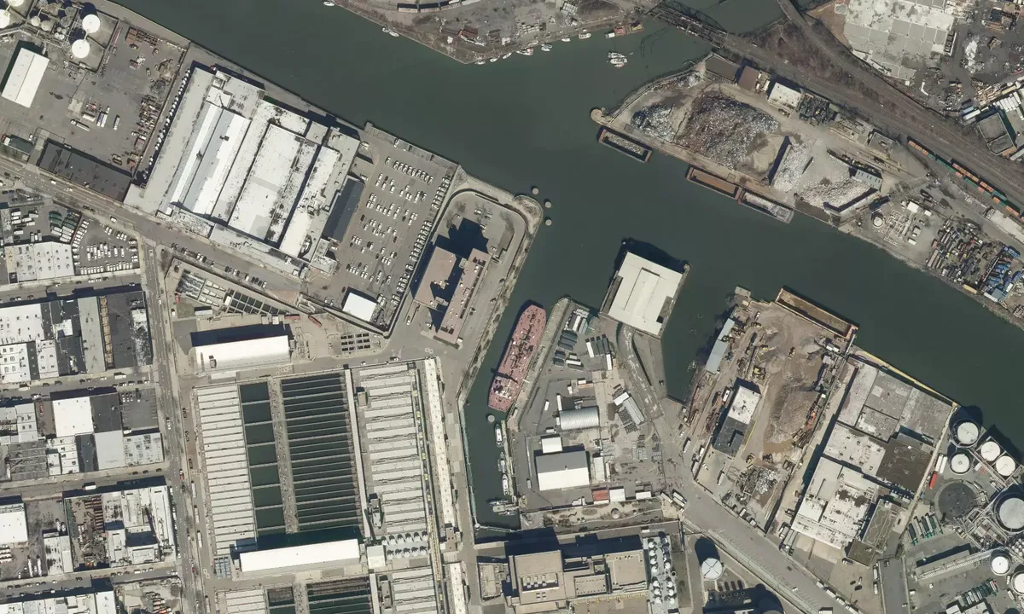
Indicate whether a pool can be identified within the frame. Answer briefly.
No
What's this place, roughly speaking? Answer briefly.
port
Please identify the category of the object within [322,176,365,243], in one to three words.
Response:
shed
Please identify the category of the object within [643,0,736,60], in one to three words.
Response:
bridge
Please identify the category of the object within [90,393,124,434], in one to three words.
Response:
building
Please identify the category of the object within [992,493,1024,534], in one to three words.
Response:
storage tank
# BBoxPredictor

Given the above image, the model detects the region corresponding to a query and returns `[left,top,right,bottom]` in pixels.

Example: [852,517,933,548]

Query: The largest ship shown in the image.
[489,305,546,412]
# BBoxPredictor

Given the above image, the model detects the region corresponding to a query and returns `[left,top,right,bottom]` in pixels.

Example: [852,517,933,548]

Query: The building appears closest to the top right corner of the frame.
[977,113,1016,156]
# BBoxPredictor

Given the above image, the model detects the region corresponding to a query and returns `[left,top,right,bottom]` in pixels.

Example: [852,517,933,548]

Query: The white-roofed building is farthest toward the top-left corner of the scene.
[2,47,50,108]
